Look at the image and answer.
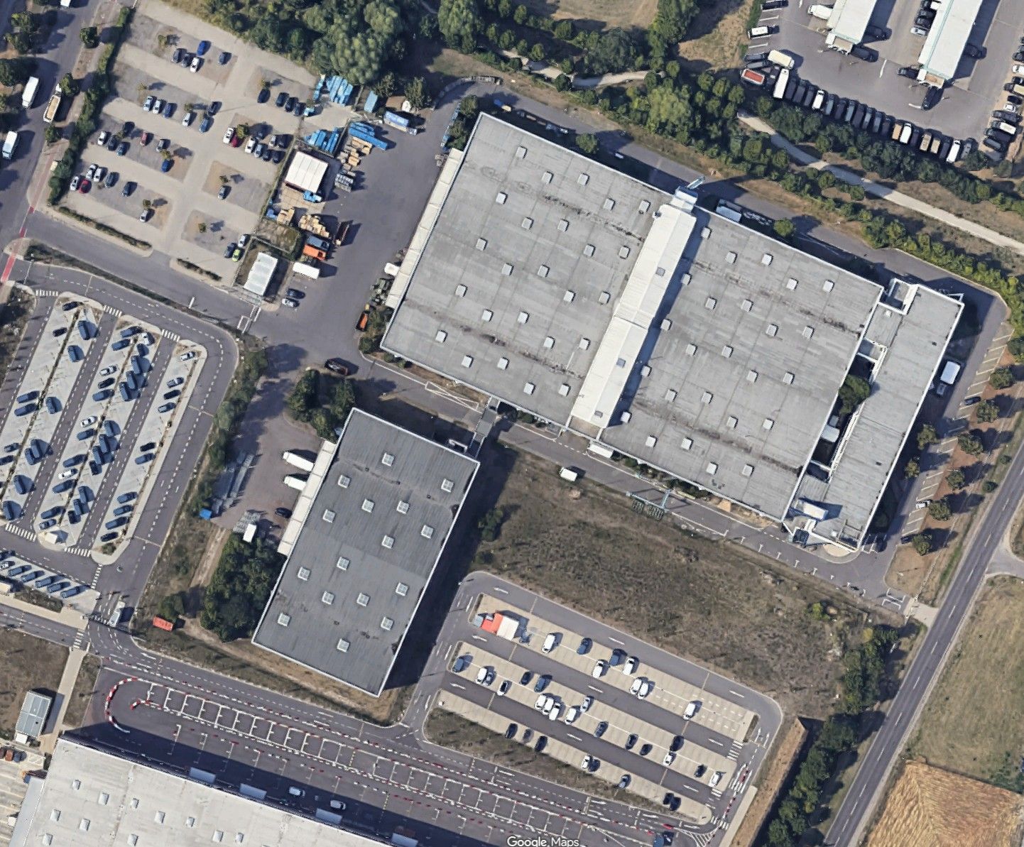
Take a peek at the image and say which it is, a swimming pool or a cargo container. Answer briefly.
cargo container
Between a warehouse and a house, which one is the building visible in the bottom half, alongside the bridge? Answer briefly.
warehouse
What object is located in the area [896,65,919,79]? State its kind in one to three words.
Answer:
vehicle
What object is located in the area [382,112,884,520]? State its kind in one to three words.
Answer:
warehouse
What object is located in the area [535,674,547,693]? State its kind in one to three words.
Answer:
vehicle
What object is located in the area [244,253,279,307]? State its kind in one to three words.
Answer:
building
